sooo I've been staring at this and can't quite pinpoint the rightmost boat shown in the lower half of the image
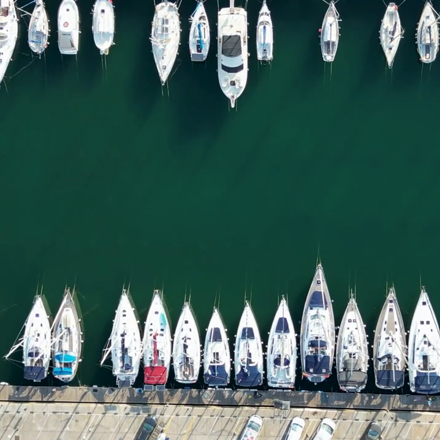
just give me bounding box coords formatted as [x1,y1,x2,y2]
[406,277,440,401]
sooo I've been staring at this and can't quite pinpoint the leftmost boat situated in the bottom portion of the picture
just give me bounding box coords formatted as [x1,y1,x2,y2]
[6,279,53,389]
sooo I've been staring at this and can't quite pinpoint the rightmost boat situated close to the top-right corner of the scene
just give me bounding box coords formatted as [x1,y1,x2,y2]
[414,0,440,80]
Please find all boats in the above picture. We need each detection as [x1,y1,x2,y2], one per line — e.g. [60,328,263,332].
[300,258,335,389]
[264,290,296,394]
[215,0,249,107]
[6,279,53,389]
[202,299,231,392]
[92,0,118,65]
[406,277,440,401]
[378,0,403,79]
[23,0,52,62]
[334,278,369,400]
[139,275,171,392]
[105,281,141,393]
[318,0,341,69]
[255,0,275,62]
[149,0,182,90]
[170,293,201,391]
[372,276,411,394]
[233,281,263,394]
[414,0,440,80]
[187,0,211,77]
[39,276,85,387]
[56,0,82,55]
[0,0,21,80]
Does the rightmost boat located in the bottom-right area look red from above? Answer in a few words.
No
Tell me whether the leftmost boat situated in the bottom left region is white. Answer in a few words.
Yes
